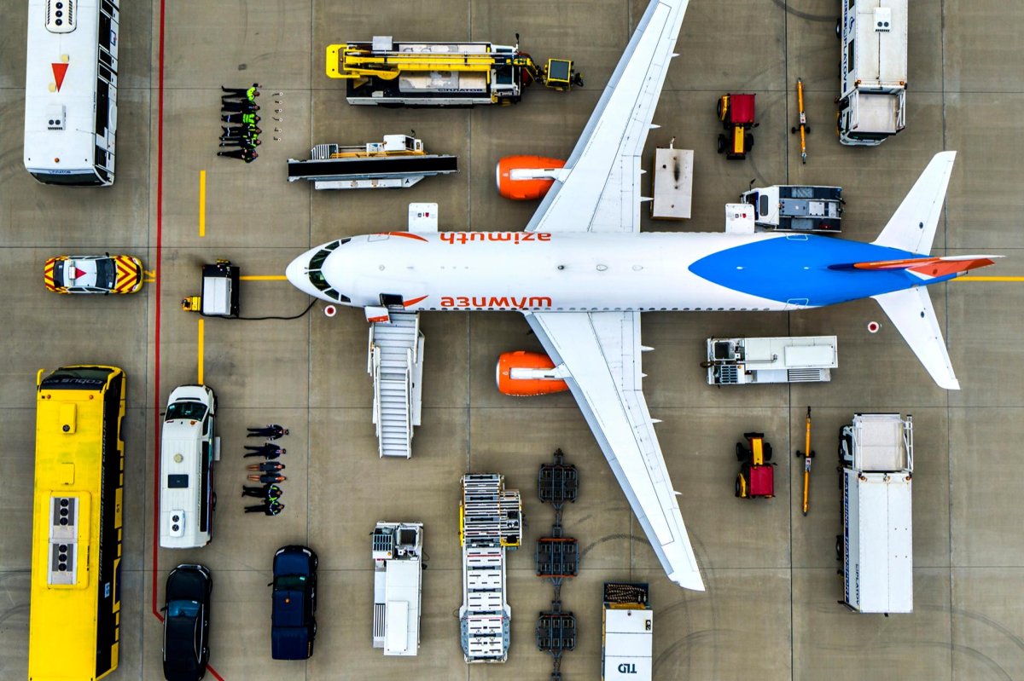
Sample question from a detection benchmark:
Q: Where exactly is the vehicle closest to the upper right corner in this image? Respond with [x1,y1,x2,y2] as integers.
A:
[833,0,908,145]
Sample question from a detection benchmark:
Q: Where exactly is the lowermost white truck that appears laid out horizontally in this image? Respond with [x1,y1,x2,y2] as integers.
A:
[700,336,837,392]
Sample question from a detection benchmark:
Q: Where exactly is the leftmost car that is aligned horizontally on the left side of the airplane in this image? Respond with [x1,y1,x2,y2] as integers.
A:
[43,251,144,297]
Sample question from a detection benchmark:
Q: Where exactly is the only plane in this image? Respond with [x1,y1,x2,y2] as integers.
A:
[286,0,1004,590]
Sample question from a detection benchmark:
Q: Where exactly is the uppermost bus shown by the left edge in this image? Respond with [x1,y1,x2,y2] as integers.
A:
[26,0,117,187]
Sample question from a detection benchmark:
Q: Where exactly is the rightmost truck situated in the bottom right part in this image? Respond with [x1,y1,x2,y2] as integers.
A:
[835,411,913,619]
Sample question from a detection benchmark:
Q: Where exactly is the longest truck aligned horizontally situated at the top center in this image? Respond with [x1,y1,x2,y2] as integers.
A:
[326,31,584,106]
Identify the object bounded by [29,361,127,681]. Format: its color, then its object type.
yellow bus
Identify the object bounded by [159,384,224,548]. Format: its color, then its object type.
white vehicle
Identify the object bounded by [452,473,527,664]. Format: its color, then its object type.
white work vehicle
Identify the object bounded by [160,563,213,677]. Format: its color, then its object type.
black car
